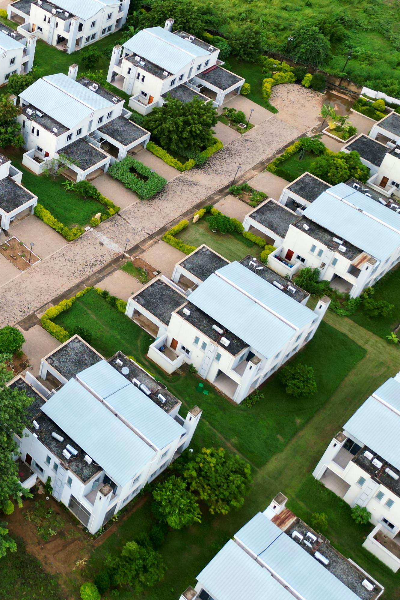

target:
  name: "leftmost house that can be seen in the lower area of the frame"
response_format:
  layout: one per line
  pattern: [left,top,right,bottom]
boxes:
[0,335,202,531]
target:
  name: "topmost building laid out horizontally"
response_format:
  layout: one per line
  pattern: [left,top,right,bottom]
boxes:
[7,0,132,53]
